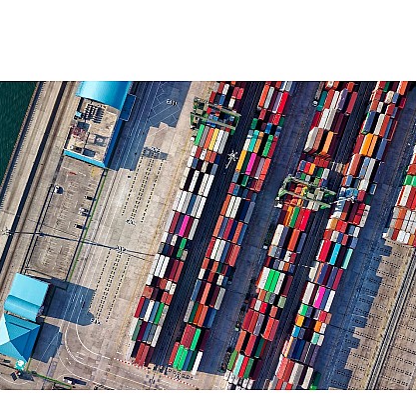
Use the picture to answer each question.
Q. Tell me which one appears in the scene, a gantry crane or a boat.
gantry crane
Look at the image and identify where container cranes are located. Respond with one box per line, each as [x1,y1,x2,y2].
[275,173,338,214]
[187,94,244,143]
